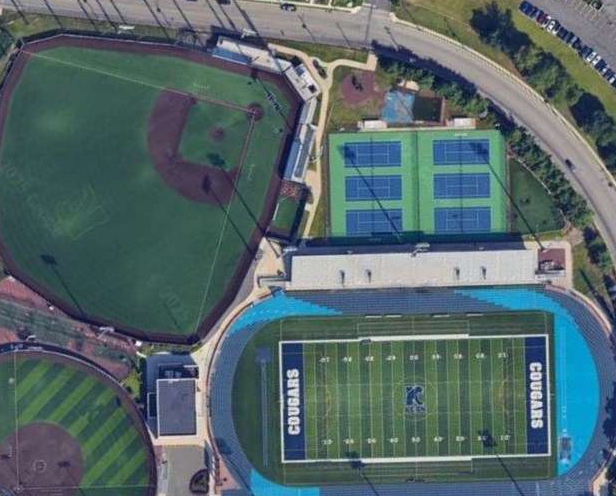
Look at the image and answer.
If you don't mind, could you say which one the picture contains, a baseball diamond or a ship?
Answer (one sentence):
It is a baseball diamond that can be seen here.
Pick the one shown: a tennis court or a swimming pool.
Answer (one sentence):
There is a tennis court in the scene.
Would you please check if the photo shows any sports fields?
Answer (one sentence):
Yes, the photo shows a sports field.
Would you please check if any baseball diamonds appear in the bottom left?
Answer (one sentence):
Yes, you'll find a baseball diamond in the bottom left.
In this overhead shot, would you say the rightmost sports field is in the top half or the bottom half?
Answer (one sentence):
The bottom half of the photo is where the rightmost sports field is.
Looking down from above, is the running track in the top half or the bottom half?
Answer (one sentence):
It is in the bottom half that the running track appears.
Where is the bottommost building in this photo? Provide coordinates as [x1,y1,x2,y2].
[147,364,199,438]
